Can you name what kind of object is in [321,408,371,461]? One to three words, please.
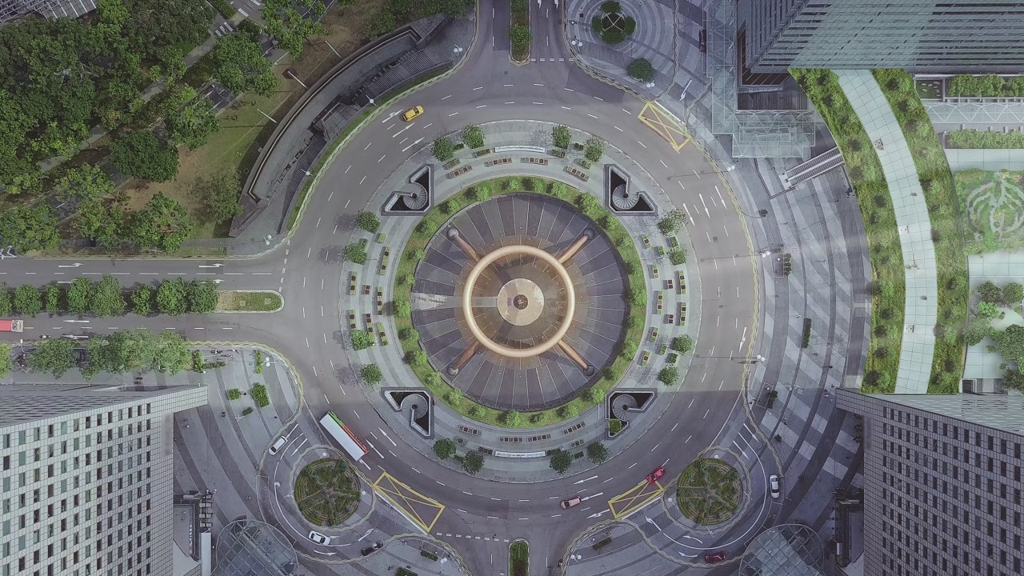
bus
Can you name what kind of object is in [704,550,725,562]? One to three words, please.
vehicle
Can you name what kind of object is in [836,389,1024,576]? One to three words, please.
building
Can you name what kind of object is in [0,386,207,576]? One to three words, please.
building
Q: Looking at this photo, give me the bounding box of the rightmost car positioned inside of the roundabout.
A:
[646,466,666,482]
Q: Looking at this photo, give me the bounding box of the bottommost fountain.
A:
[410,192,630,411]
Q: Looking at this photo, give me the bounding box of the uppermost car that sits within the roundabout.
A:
[402,106,424,122]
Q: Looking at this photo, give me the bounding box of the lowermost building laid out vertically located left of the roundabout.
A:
[174,494,212,576]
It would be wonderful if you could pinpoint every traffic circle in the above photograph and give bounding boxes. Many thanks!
[283,65,754,539]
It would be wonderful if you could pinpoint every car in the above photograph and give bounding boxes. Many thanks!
[269,435,288,454]
[309,531,331,545]
[402,106,424,122]
[704,550,725,562]
[361,541,383,556]
[698,29,708,51]
[646,466,666,482]
[561,496,582,509]
[769,474,779,497]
